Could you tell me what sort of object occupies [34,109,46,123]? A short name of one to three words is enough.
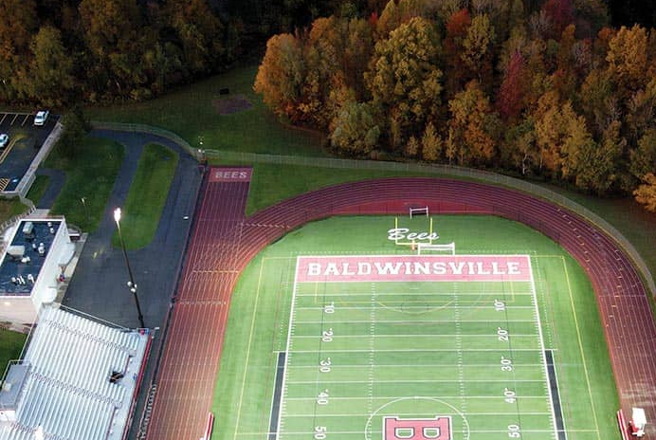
vehicle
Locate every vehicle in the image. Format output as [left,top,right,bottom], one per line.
[34,109,46,123]
[631,409,646,433]
[0,133,9,145]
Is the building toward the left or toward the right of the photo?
left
